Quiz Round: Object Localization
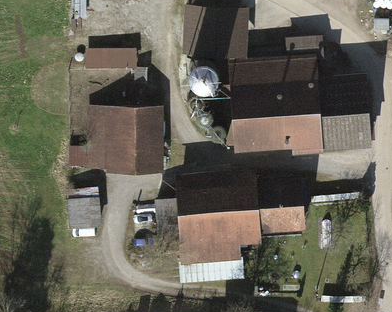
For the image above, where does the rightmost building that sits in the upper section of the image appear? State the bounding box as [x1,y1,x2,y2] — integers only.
[324,73,372,151]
